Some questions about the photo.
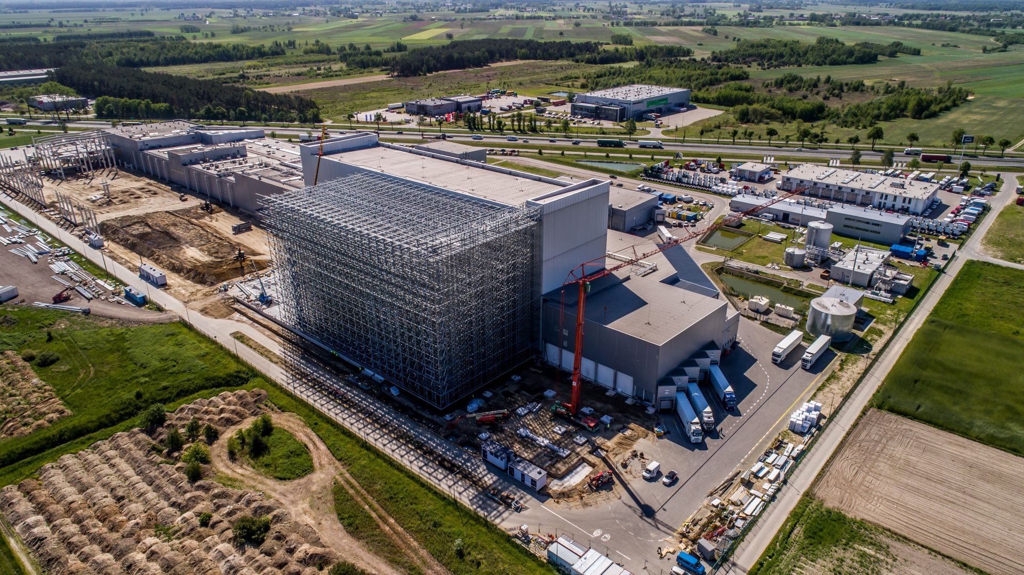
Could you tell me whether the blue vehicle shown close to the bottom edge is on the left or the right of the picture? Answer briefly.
right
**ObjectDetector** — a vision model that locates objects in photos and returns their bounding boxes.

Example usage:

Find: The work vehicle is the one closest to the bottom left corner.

[52,284,70,301]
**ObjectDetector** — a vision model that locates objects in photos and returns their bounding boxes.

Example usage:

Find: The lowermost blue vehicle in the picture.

[677,545,707,572]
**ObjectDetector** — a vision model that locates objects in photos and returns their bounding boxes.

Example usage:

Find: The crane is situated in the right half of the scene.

[548,186,809,430]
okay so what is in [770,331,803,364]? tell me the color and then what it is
white truck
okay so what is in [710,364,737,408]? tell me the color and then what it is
blue truck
